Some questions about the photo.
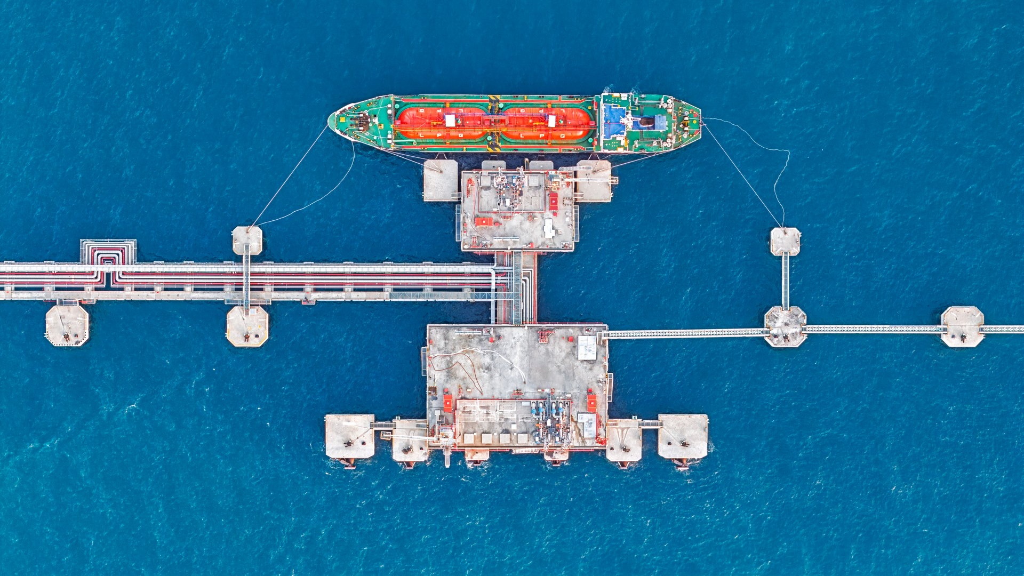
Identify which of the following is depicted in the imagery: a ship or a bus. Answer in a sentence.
There is a ship in the scene.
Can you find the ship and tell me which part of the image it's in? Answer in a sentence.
You can find the ship in the top area of the picture.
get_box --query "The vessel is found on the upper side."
[327,92,707,158]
